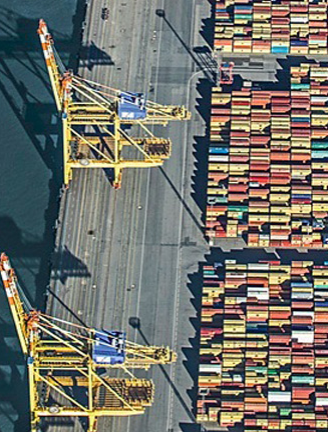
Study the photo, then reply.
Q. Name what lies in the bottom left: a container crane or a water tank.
container crane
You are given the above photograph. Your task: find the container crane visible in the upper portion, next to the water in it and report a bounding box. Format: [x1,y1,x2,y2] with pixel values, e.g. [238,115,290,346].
[37,16,192,190]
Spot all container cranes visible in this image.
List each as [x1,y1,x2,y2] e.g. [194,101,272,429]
[37,16,192,190]
[0,247,179,432]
